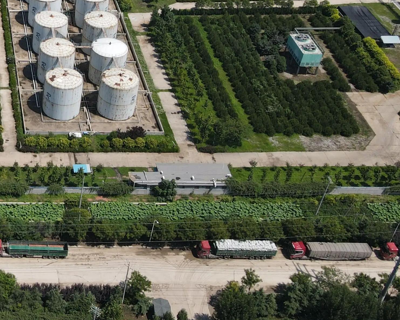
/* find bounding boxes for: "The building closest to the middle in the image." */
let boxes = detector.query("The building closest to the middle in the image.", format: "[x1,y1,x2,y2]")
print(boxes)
[125,163,237,190]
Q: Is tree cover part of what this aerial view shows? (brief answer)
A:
Yes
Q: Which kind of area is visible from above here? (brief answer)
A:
industrial area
